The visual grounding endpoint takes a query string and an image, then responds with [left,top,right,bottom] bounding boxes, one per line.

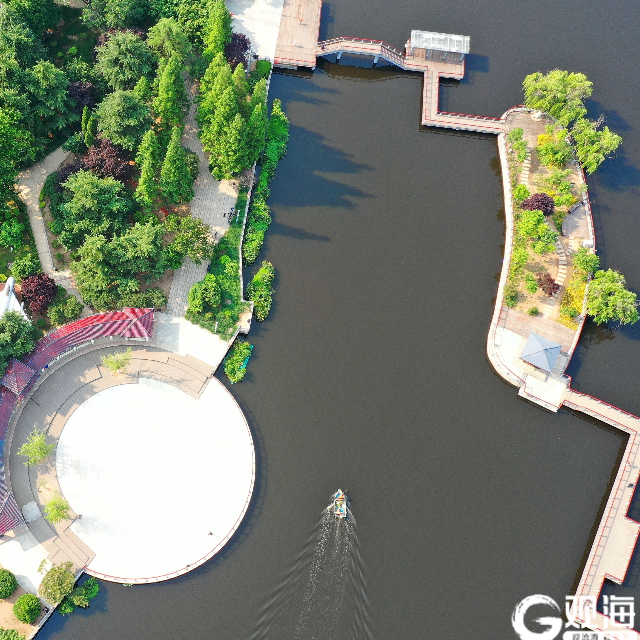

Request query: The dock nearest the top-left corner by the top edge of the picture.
[274,0,322,71]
